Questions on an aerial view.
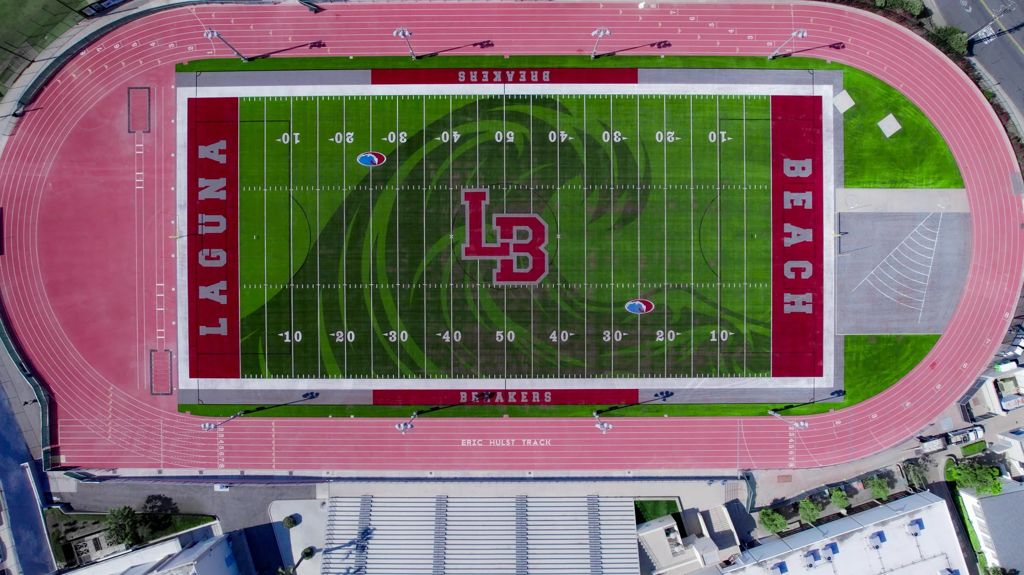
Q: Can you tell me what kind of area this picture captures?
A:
sports ground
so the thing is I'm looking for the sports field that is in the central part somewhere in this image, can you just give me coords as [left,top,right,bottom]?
[176,55,845,418]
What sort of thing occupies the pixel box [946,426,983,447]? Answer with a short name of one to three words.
truck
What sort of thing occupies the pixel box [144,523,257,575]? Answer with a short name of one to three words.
building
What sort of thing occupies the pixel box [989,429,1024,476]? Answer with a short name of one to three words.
building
